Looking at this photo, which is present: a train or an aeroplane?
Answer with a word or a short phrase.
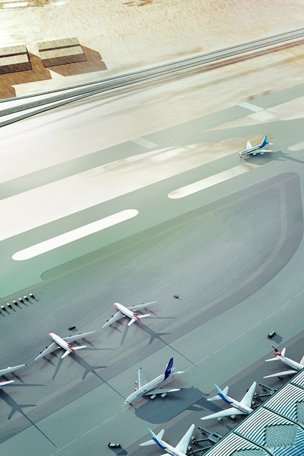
aeroplane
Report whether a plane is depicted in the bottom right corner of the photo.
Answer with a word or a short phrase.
Yes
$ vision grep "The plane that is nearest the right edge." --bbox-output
[264,347,304,379]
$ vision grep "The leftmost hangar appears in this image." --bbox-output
[0,45,34,78]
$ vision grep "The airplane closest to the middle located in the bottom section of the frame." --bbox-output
[105,303,158,329]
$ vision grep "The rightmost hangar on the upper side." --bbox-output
[36,37,87,70]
